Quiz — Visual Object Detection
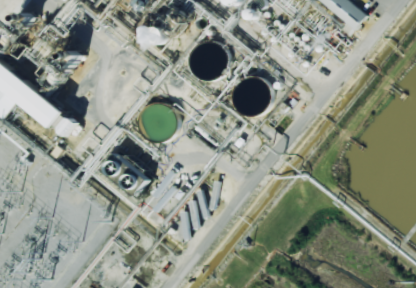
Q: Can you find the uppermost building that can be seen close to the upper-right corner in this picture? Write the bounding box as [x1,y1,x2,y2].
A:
[316,0,369,33]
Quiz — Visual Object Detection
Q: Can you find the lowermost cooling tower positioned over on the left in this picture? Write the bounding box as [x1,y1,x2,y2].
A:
[96,154,157,206]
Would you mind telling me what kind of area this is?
industrial area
